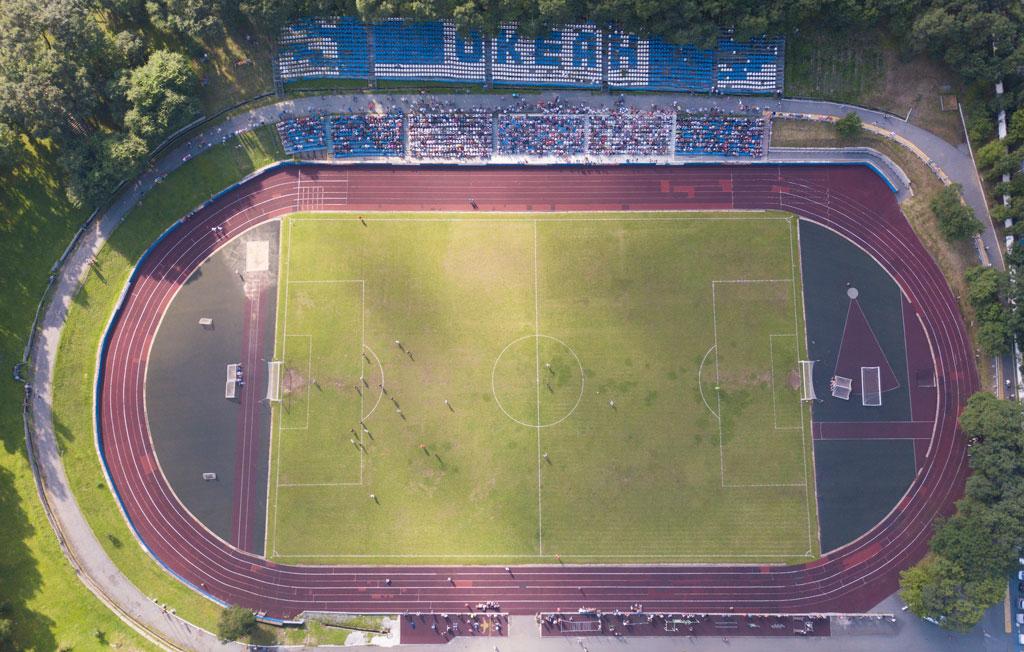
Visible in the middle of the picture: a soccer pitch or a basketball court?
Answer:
soccer pitch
